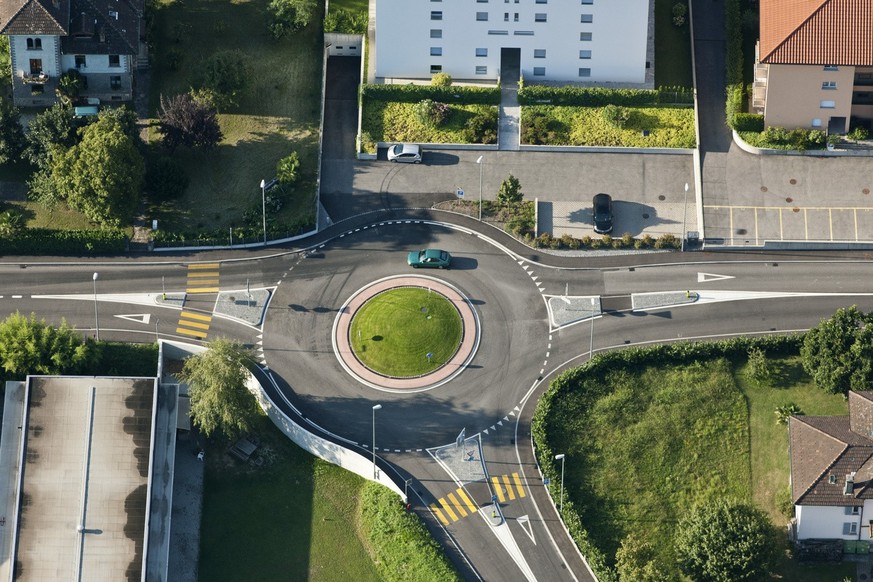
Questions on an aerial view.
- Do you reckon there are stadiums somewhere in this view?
No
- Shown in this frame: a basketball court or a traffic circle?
traffic circle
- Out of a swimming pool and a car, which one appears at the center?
car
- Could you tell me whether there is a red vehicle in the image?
No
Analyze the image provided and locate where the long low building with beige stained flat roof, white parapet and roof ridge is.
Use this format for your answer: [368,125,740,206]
[0,374,179,582]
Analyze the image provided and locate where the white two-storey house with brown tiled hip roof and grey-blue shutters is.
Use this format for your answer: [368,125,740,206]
[789,395,873,546]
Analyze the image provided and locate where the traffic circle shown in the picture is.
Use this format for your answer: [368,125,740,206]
[256,221,552,452]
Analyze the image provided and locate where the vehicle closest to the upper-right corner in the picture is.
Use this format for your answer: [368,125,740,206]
[593,193,614,233]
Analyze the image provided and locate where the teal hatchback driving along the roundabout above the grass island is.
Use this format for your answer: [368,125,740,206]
[408,248,451,268]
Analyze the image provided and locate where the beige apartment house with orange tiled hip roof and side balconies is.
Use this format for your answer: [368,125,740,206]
[750,0,873,130]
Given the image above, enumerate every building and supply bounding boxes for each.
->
[750,0,873,130]
[789,395,873,546]
[0,0,148,106]
[0,374,179,582]
[326,32,361,55]
[376,0,650,84]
